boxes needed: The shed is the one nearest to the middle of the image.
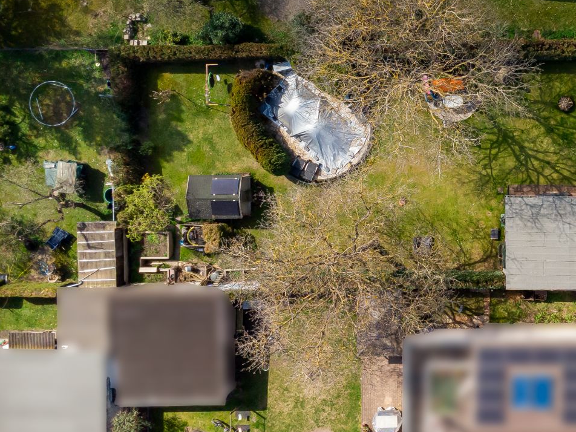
[184,176,252,219]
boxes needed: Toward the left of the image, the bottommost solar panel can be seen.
[210,201,238,217]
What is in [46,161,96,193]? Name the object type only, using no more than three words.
shed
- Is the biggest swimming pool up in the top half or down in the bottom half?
top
